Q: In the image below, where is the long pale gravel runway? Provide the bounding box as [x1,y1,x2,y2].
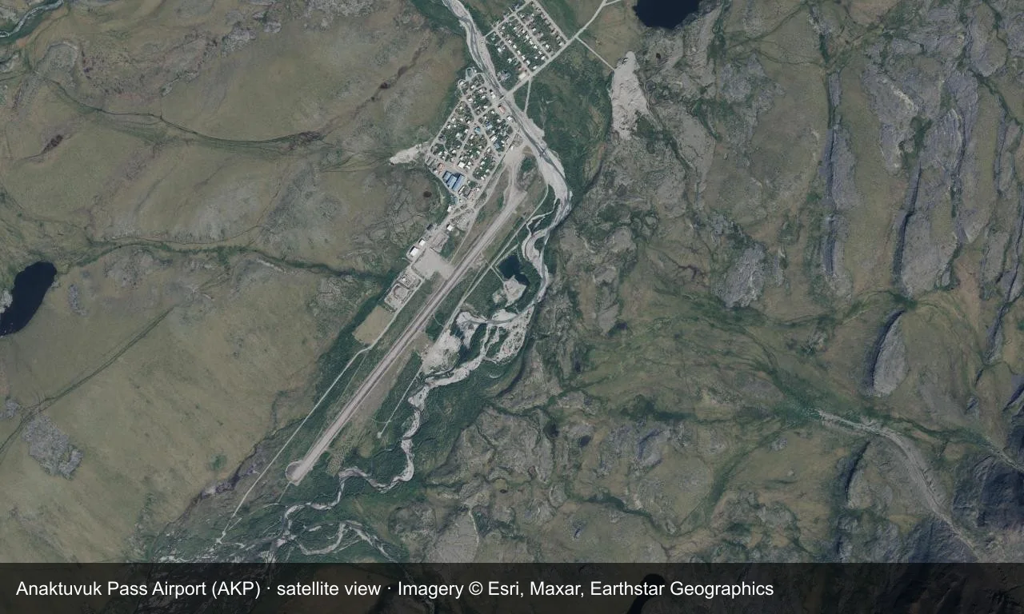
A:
[296,187,525,477]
